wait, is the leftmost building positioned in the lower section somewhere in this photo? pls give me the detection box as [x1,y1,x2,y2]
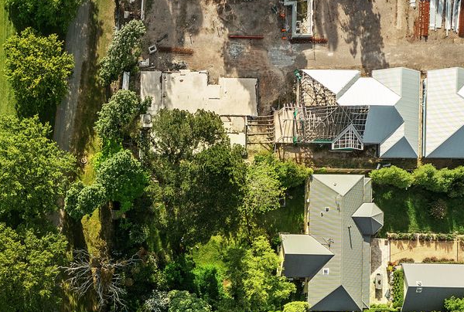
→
[278,174,394,312]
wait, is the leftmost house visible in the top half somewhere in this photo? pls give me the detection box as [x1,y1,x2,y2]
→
[296,64,419,159]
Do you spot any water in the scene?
No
